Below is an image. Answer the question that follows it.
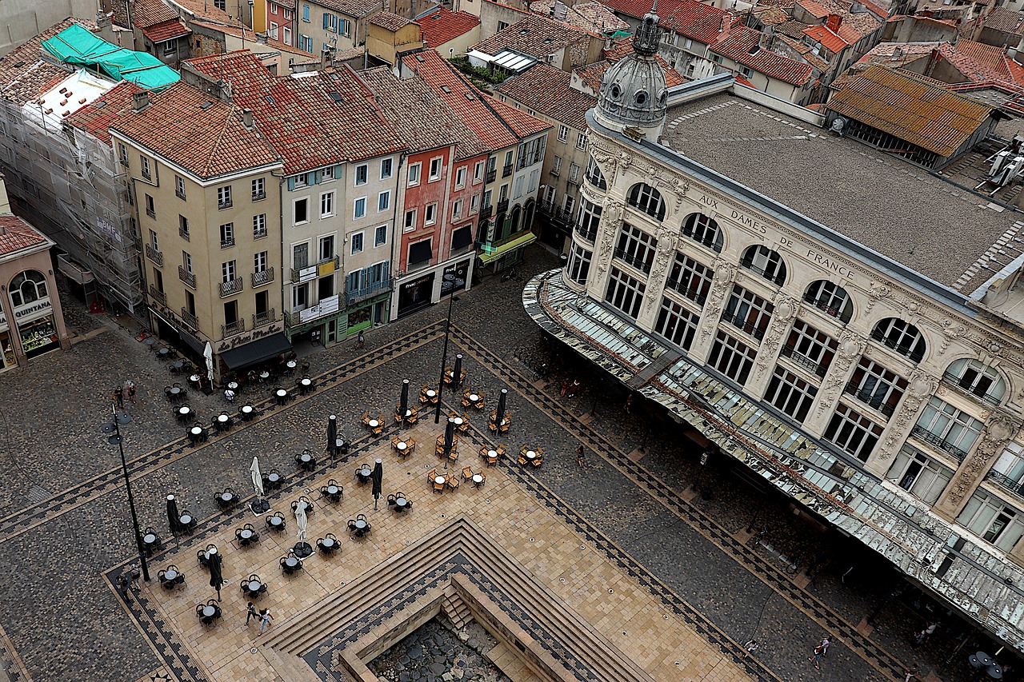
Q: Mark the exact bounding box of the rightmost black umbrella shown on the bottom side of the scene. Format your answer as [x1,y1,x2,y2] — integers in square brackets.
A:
[495,390,507,436]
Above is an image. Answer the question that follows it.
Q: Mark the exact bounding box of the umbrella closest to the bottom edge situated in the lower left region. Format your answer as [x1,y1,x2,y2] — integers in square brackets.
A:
[210,548,224,603]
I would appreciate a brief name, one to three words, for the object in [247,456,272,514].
umbrella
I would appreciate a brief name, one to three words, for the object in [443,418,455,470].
umbrella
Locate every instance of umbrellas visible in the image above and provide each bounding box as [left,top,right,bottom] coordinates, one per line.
[452,350,462,392]
[166,495,180,550]
[210,548,224,603]
[201,341,224,396]
[291,499,314,559]
[371,459,382,512]
[495,390,507,436]
[327,416,338,468]
[399,379,410,430]
[247,456,272,514]
[443,418,455,470]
